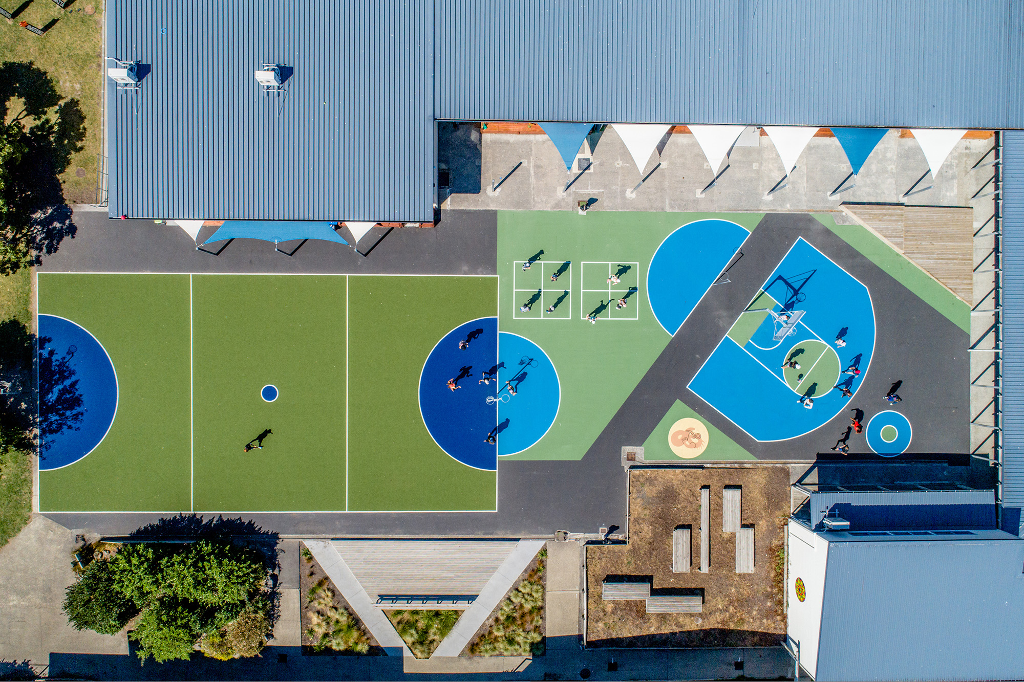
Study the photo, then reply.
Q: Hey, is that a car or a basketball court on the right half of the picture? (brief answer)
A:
basketball court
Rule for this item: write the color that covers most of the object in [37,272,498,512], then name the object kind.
green sports court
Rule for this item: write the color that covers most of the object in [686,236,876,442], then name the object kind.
blue basketball court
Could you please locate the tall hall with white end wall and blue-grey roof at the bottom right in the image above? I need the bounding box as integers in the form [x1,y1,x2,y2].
[787,516,1024,682]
